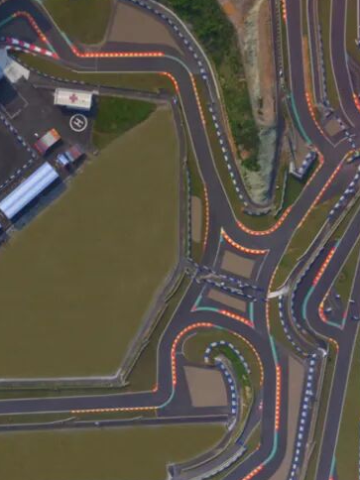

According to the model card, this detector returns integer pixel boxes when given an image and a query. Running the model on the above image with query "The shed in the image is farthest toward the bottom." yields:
[0,163,60,219]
